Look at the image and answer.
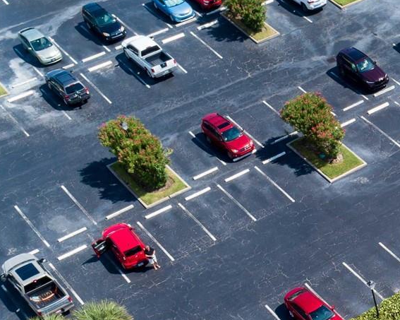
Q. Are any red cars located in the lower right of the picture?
Yes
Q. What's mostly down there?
paved ground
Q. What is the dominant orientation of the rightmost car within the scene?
on a diagonal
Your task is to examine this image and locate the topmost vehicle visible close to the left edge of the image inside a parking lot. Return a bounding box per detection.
[19,30,62,66]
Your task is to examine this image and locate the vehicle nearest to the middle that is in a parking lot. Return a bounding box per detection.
[202,114,255,162]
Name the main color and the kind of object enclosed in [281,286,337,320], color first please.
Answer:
red car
